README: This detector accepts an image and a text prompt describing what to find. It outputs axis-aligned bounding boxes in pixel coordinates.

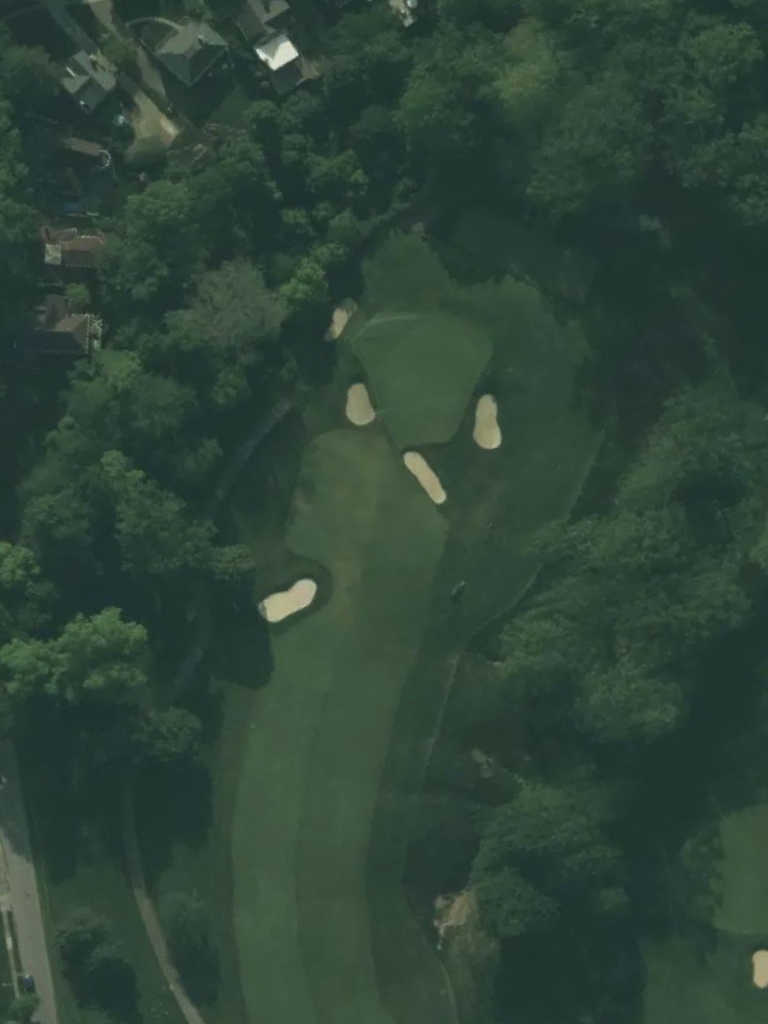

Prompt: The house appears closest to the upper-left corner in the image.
[60,44,115,109]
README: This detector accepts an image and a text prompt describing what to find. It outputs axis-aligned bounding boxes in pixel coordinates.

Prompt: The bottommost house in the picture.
[30,292,102,353]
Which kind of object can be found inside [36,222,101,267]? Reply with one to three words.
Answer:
house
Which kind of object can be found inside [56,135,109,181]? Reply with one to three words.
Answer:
house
